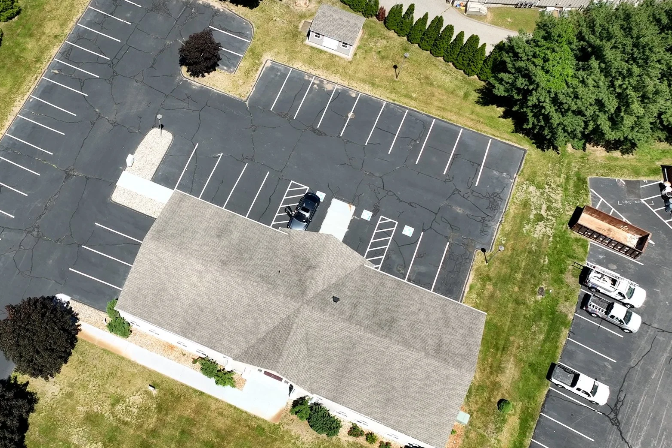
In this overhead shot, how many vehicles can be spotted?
4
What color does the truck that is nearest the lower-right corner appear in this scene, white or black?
white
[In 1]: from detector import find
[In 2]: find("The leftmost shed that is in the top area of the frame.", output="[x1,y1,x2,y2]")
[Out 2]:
[308,2,365,56]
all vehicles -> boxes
[548,363,610,406]
[285,191,320,231]
[583,293,644,334]
[583,265,645,310]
